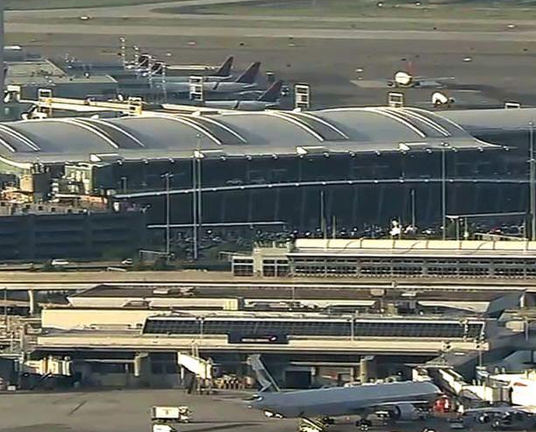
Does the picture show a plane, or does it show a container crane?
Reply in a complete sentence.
The image shows a plane.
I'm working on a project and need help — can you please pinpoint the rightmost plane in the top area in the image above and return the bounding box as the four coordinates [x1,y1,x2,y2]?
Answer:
[409,75,483,106]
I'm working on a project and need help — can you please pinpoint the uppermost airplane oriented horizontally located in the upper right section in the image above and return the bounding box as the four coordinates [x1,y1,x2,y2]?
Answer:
[365,47,448,89]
